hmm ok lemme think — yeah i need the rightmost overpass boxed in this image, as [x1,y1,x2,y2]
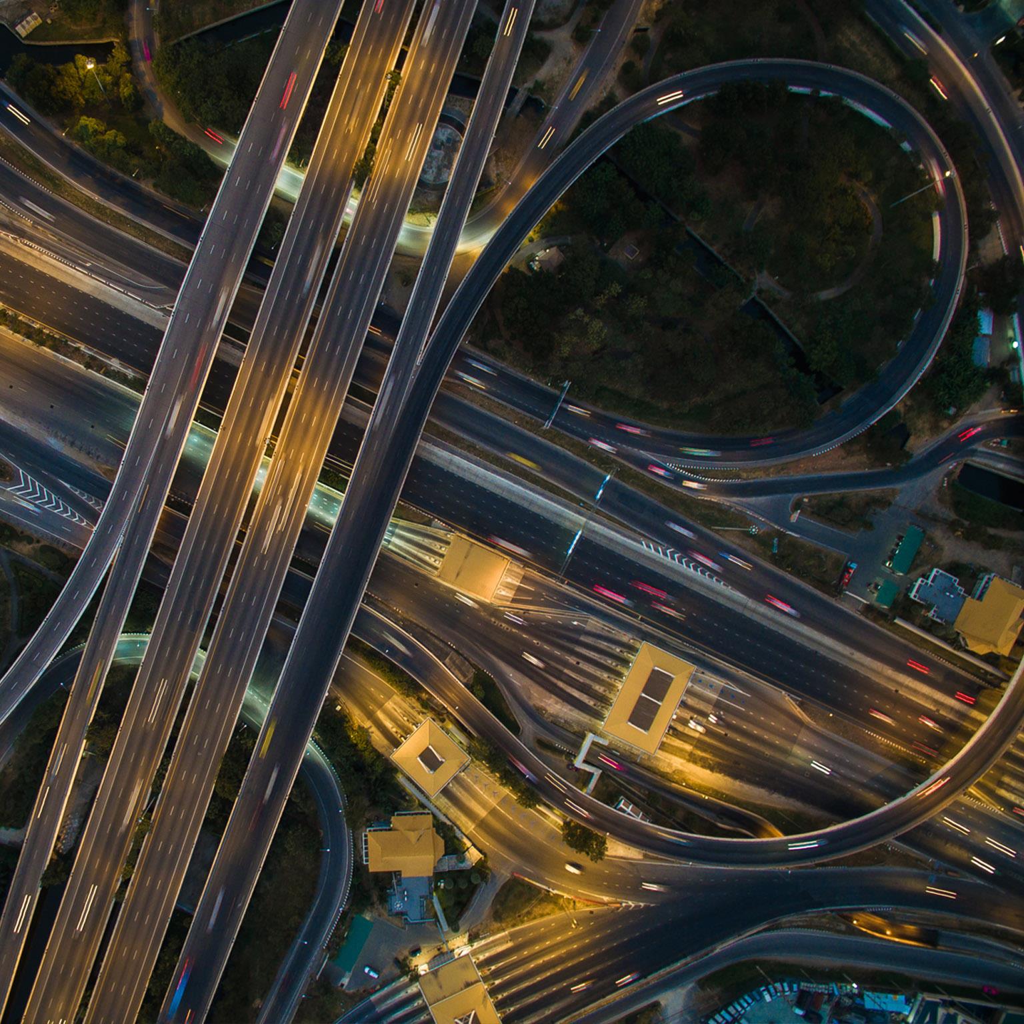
[852,0,1024,399]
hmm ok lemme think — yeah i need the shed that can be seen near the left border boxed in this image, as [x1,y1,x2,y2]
[15,11,44,40]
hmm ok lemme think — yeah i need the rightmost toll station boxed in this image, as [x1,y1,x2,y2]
[558,625,709,755]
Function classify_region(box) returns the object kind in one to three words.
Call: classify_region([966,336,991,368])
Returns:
shed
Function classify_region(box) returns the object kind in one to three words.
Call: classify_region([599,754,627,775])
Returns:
truck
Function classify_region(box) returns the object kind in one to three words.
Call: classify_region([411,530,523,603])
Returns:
toll station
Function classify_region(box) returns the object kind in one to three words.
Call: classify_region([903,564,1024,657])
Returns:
building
